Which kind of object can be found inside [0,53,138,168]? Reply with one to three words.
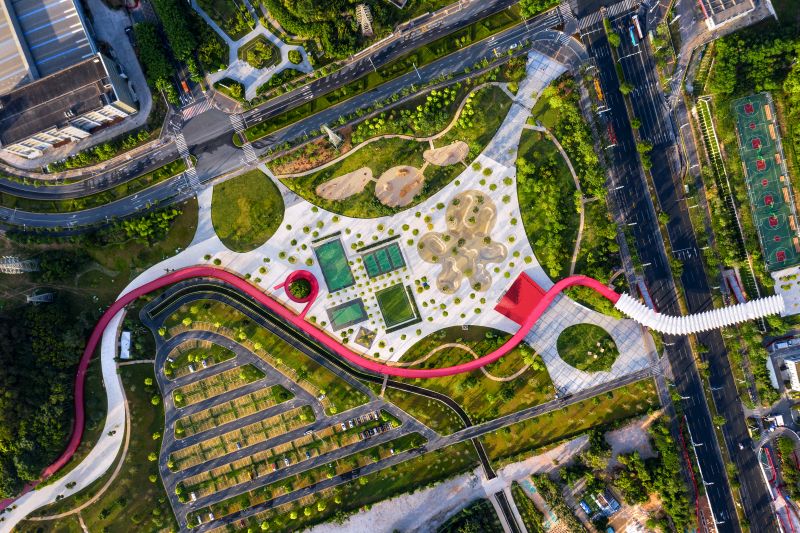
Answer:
building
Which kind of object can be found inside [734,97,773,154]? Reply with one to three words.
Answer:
basketball court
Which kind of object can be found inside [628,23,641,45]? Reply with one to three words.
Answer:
vehicle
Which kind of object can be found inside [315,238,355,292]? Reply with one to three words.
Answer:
sports court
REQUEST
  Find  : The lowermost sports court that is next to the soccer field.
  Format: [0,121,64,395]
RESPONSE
[326,298,369,331]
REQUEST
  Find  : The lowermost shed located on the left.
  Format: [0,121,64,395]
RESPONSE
[120,331,134,359]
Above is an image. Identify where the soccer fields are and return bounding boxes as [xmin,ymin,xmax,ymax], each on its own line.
[375,282,417,330]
